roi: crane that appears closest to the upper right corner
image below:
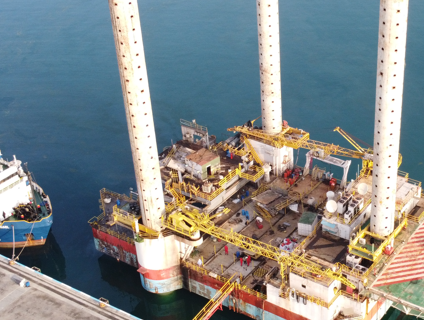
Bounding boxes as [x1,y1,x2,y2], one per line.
[223,119,374,187]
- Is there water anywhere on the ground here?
Yes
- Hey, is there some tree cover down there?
No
